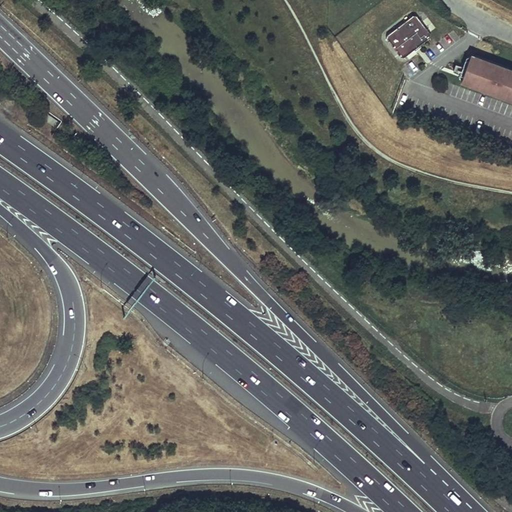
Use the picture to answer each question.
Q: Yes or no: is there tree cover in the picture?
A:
Yes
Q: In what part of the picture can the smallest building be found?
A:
top right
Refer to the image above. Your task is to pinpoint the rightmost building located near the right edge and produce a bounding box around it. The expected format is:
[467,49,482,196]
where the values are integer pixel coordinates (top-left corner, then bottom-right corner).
[460,56,512,104]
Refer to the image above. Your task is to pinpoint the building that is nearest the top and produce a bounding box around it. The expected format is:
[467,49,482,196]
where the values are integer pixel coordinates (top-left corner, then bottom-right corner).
[386,16,431,59]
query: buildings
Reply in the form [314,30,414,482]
[460,56,512,104]
[386,16,431,59]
